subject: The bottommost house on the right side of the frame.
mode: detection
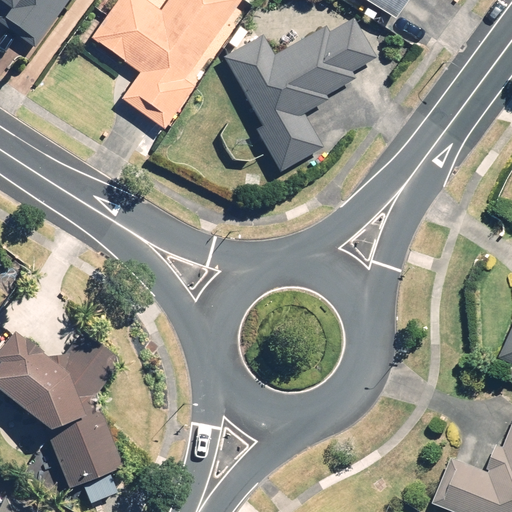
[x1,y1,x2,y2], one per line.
[432,423,512,512]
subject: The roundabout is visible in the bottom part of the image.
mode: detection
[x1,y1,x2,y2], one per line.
[239,287,344,392]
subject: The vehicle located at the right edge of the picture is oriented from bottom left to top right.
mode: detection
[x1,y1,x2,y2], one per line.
[483,0,511,25]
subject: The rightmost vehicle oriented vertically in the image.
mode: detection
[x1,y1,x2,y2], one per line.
[195,424,212,458]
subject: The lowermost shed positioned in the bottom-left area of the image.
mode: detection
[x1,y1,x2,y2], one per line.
[84,475,118,504]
